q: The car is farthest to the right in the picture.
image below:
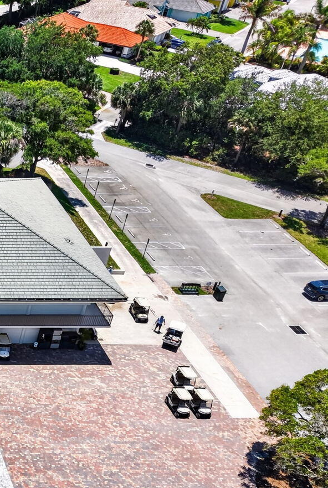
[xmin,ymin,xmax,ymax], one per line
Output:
[301,276,328,299]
